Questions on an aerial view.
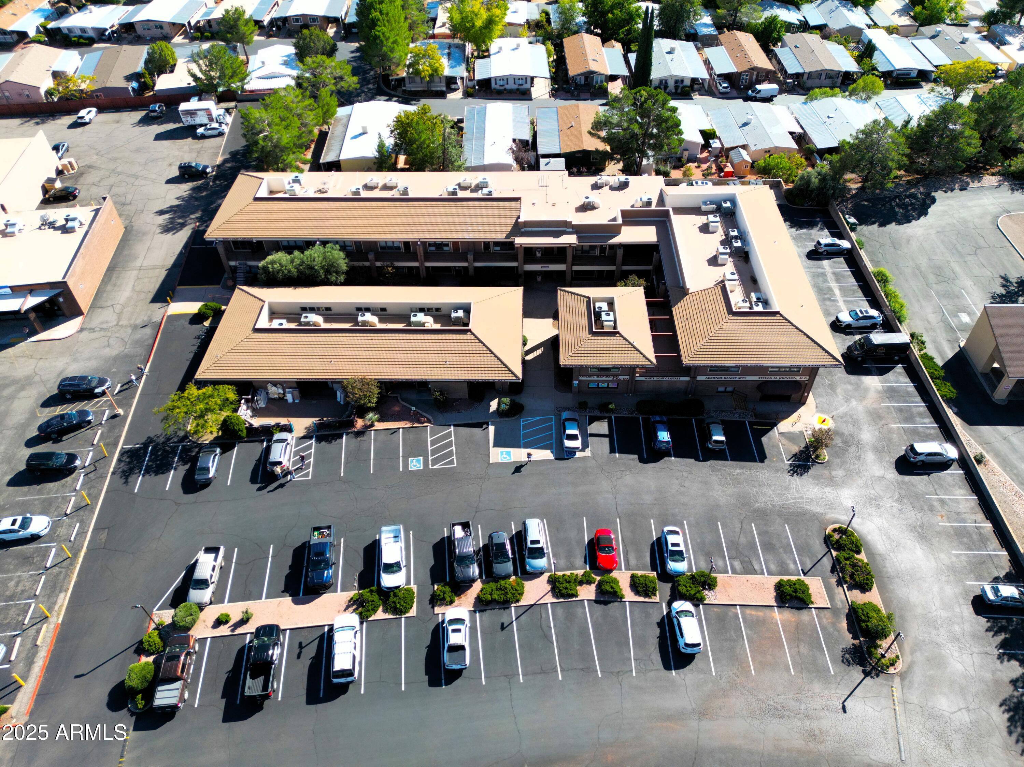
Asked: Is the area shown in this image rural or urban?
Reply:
urban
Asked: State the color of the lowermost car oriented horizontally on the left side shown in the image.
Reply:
white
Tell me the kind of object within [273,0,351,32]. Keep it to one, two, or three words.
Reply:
house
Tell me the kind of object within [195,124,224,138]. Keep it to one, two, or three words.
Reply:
car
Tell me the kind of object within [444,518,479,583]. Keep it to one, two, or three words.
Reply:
truck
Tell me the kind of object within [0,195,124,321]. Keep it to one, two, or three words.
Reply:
building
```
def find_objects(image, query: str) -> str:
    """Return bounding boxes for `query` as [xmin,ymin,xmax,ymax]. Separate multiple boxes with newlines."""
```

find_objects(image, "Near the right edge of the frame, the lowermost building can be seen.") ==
[962,305,1024,404]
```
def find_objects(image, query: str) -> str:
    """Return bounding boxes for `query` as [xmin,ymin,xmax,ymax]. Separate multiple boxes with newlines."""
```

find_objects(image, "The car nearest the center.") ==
[560,413,582,452]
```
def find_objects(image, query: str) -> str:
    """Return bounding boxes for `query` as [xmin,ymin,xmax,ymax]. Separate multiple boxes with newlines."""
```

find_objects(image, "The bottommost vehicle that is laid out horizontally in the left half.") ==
[0,514,50,543]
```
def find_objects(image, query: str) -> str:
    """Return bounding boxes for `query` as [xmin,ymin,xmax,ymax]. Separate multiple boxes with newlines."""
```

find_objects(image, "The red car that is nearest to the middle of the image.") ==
[594,527,619,571]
